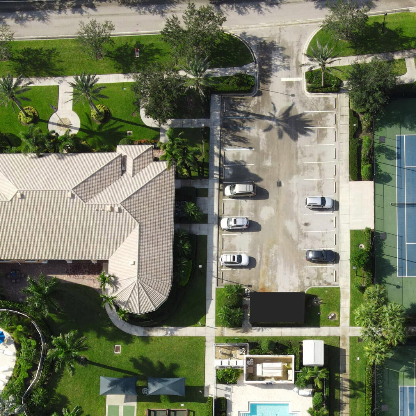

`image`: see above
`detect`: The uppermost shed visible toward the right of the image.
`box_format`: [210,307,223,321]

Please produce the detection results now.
[249,293,304,323]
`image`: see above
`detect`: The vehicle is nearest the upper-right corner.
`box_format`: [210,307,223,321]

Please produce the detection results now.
[305,197,334,210]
